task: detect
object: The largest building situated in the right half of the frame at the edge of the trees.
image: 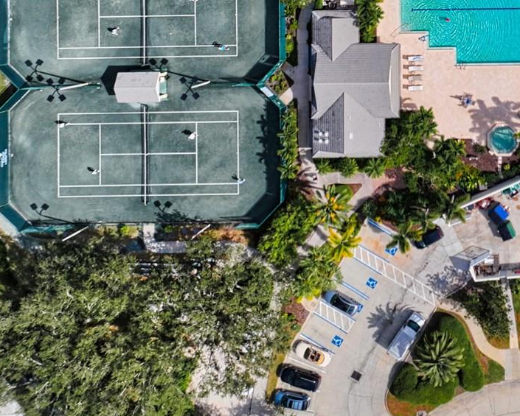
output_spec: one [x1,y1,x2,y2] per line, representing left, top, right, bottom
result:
[312,12,400,158]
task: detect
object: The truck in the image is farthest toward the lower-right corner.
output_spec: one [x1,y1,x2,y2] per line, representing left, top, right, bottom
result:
[386,312,423,360]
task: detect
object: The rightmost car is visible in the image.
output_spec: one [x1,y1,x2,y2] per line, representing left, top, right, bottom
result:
[413,222,446,251]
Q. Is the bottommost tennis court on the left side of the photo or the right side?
left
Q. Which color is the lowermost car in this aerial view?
blue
